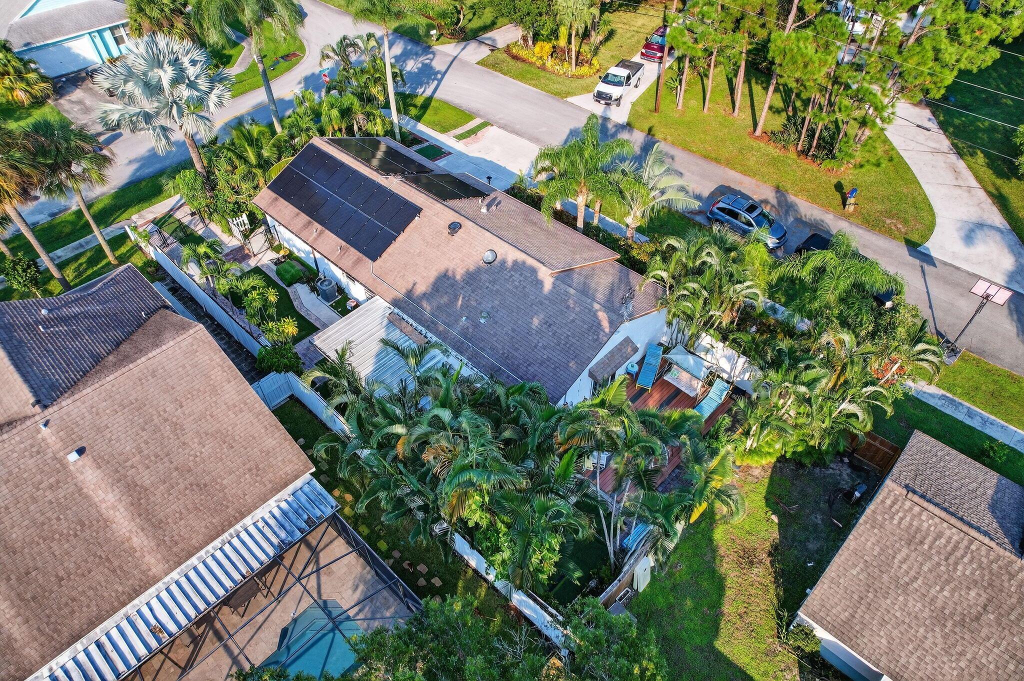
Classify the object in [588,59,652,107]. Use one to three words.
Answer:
truck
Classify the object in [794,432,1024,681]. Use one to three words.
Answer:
house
